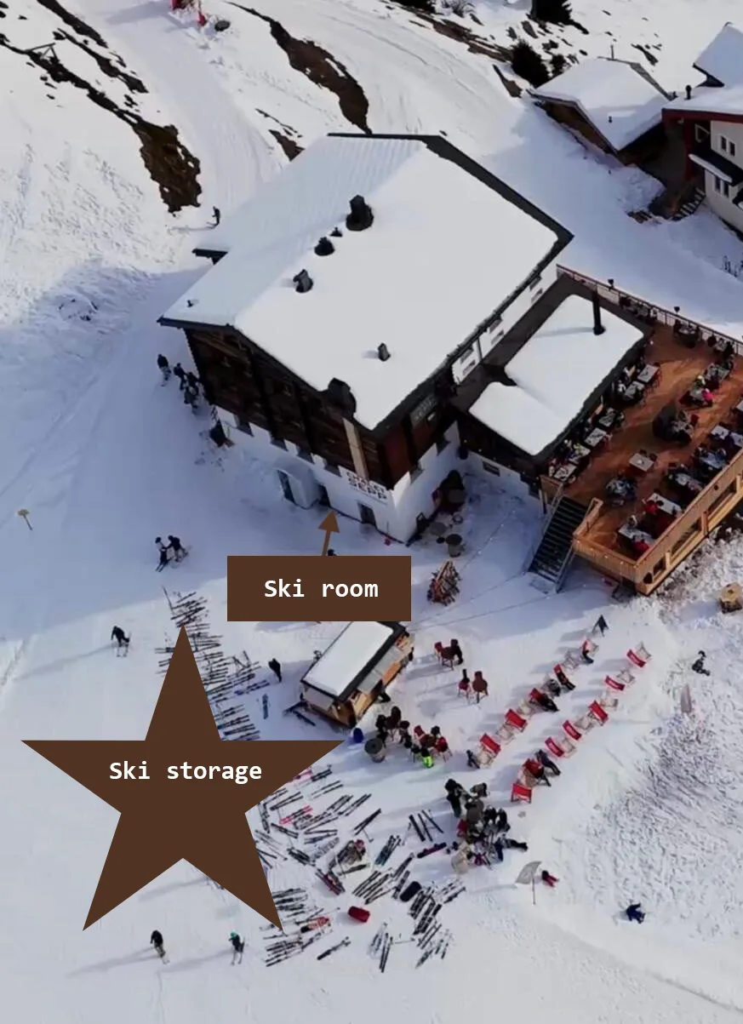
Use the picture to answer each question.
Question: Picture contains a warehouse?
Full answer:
No, there isn't any warehouse down there.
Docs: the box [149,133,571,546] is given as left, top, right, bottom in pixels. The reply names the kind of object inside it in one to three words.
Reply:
house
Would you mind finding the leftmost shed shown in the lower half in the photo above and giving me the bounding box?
[303,610,419,734]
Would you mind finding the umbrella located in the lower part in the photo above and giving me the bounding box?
[515,863,545,903]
